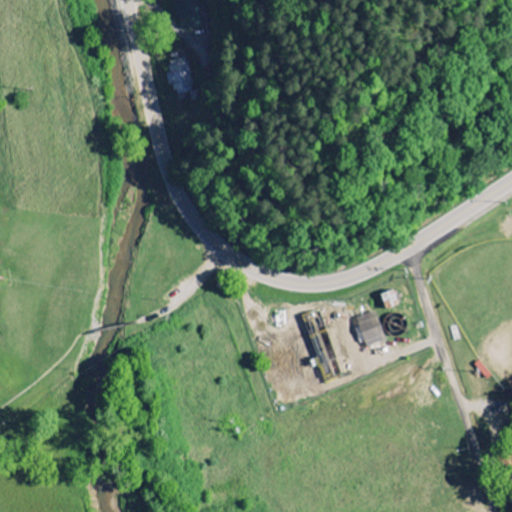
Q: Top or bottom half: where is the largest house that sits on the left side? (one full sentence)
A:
The top half of the photo is where the largest house that sits on the left side is.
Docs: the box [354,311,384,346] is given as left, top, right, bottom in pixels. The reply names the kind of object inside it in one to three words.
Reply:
shed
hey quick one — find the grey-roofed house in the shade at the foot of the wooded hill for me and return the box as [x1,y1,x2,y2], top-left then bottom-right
[166,58,194,94]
